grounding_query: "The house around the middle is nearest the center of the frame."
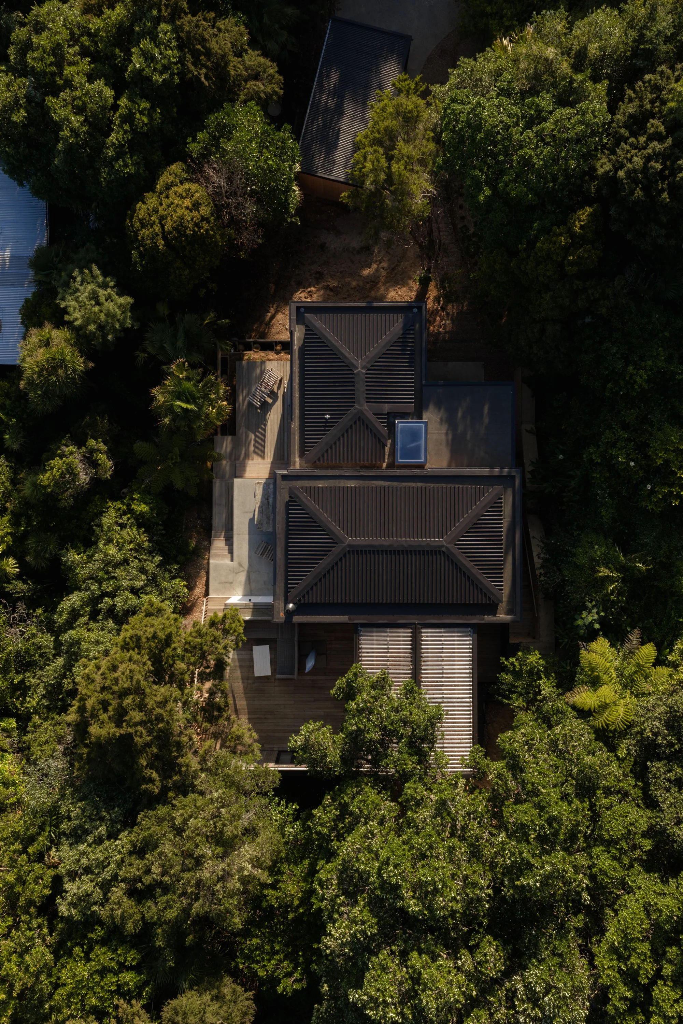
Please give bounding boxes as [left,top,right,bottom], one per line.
[273,301,523,623]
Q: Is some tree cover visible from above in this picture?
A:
Yes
